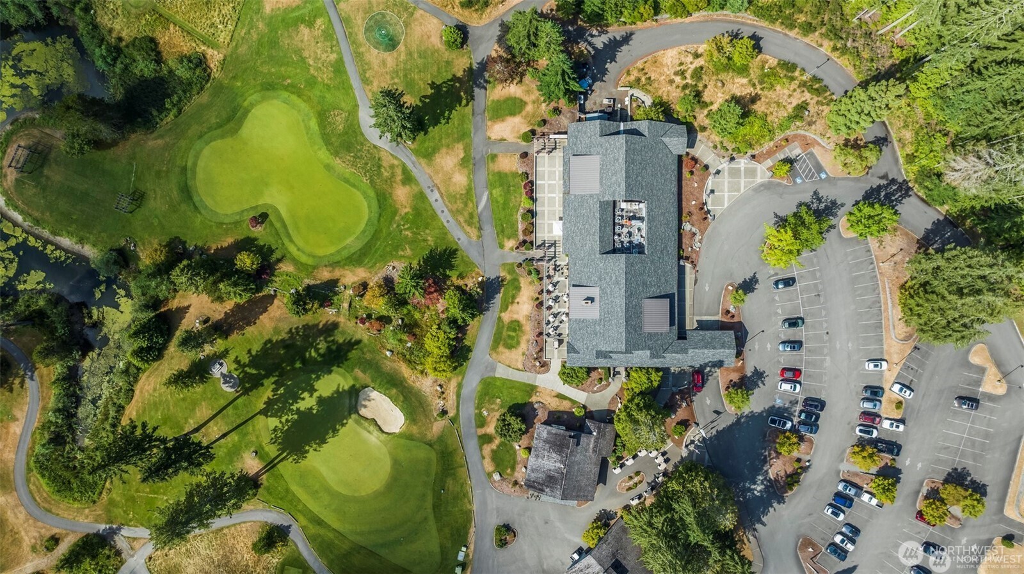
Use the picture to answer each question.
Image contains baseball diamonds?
No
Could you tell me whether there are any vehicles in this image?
Yes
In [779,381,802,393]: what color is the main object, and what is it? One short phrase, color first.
white vehicle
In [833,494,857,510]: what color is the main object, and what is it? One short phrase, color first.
blue car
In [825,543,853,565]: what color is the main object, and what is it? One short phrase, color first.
blue truck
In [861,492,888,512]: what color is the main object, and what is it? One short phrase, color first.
white vehicle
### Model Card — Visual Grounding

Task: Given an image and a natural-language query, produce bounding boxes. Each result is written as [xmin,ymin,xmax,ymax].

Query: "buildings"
[525,419,615,501]
[562,119,737,367]
[567,517,668,574]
